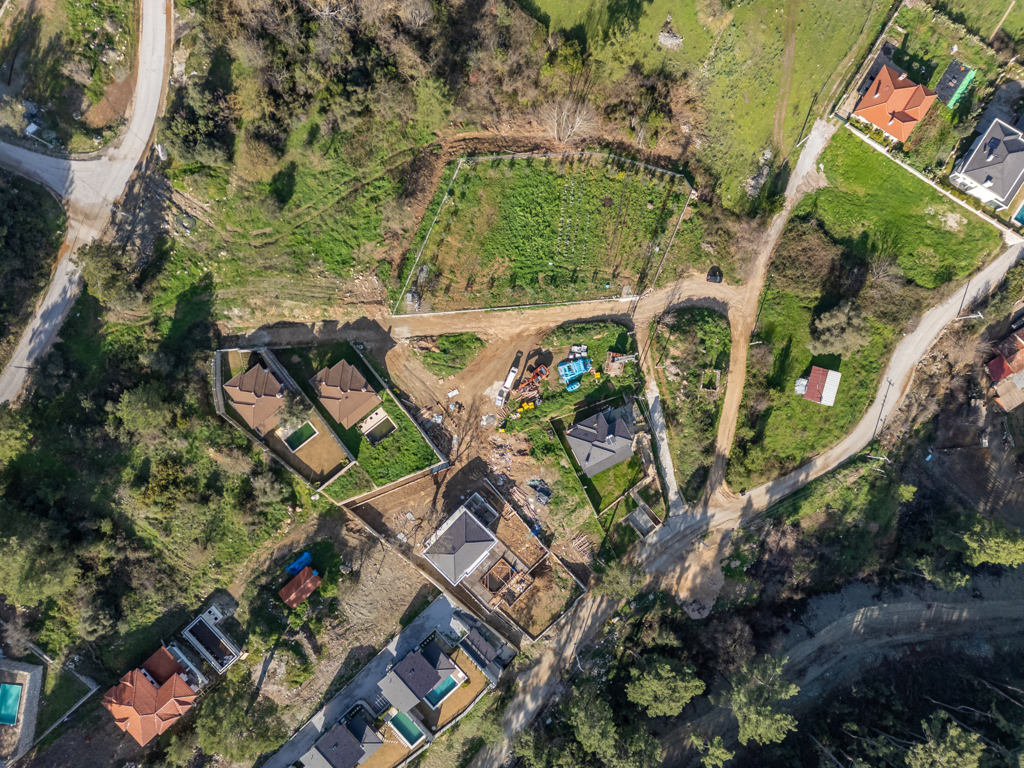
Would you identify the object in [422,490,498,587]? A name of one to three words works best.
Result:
house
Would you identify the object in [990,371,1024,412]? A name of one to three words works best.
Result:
barn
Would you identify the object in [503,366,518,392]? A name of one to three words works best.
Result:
vehicle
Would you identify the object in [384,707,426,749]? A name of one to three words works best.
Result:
swimming pool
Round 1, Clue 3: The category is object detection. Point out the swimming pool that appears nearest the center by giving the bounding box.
[359,407,398,446]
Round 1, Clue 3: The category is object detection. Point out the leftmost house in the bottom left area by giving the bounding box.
[101,643,207,747]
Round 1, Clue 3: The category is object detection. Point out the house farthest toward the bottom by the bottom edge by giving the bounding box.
[300,706,384,768]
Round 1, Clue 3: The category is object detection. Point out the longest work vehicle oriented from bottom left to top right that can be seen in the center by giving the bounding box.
[510,363,551,395]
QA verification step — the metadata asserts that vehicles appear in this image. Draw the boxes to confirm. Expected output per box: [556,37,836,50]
[510,363,551,395]
[503,366,518,392]
[860,74,875,93]
[1010,318,1024,331]
[494,394,502,408]
[707,275,723,283]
